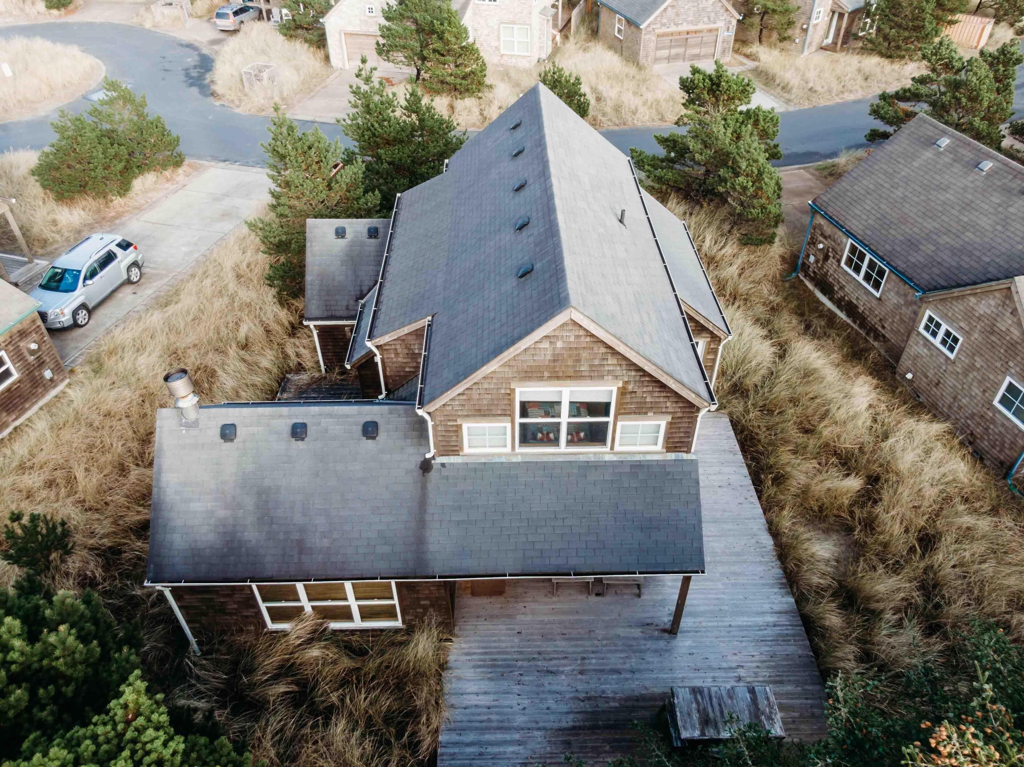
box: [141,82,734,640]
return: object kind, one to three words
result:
house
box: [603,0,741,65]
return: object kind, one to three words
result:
building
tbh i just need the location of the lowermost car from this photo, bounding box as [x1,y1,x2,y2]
[29,227,148,334]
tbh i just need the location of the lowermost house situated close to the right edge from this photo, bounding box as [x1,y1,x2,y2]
[785,106,1024,498]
